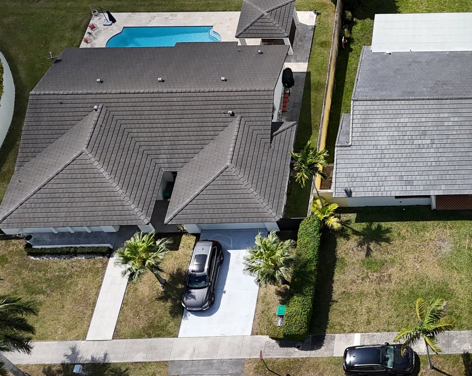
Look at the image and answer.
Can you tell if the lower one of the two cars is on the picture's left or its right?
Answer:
right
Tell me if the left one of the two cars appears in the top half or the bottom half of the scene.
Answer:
bottom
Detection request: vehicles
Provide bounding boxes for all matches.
[180,239,225,311]
[341,342,417,376]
